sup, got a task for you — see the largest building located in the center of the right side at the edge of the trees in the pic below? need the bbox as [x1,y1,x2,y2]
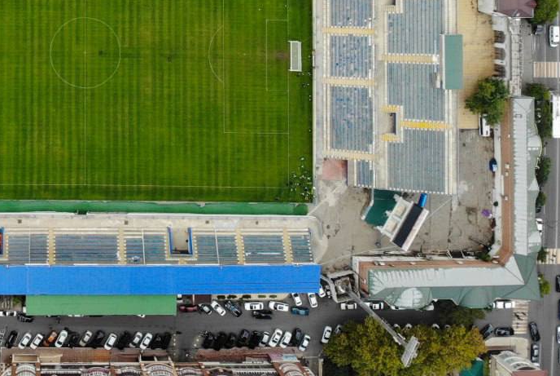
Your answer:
[347,97,542,317]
